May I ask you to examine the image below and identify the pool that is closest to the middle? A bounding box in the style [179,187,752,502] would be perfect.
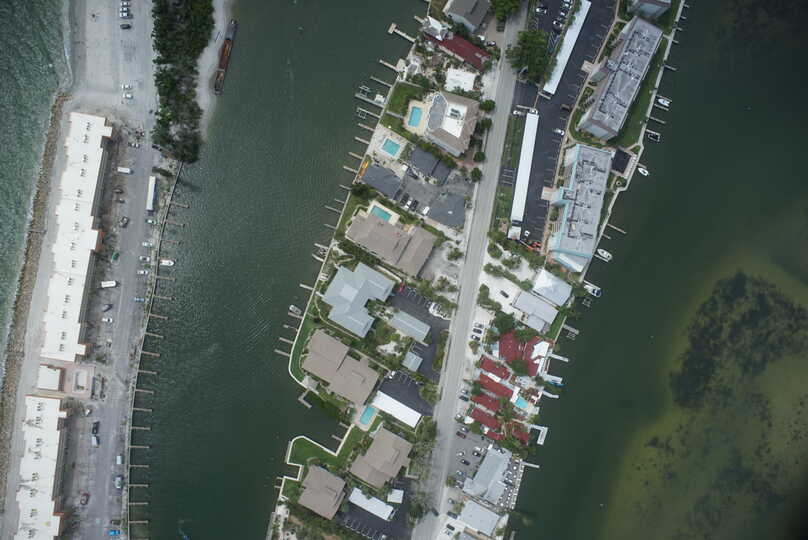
[369,204,392,223]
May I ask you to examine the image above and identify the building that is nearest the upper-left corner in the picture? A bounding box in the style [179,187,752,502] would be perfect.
[40,112,121,361]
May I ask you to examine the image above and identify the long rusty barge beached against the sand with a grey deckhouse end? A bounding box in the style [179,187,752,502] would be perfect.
[213,18,237,95]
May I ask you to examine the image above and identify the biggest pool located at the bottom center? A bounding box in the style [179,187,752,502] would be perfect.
[359,406,376,426]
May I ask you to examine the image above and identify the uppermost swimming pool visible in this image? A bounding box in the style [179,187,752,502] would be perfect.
[407,105,424,128]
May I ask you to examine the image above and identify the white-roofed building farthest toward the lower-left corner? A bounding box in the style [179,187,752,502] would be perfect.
[13,394,77,540]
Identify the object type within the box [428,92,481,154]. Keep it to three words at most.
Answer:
house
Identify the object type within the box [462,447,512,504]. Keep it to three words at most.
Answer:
building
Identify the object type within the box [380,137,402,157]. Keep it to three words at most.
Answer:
swimming pool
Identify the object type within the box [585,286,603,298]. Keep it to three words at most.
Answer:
boat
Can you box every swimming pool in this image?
[380,137,402,157]
[369,204,392,223]
[513,396,529,410]
[359,406,376,426]
[407,105,424,128]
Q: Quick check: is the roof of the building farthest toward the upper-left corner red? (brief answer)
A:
No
